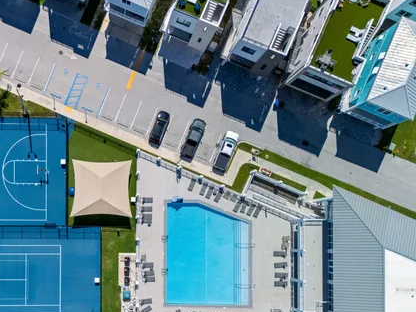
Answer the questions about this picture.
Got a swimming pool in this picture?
Yes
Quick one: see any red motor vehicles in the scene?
No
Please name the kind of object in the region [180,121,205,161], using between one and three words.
truck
